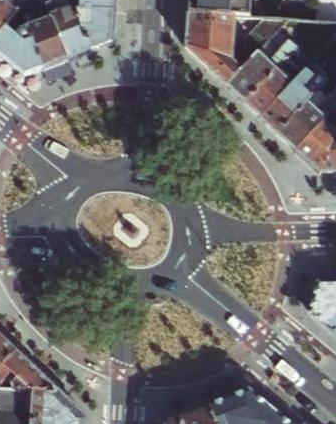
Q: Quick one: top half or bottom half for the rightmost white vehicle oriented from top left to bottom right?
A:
bottom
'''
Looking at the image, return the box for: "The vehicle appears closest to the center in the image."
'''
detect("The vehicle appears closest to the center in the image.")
[152,276,176,290]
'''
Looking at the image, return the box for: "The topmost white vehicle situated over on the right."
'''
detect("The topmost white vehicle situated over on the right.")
[228,315,250,335]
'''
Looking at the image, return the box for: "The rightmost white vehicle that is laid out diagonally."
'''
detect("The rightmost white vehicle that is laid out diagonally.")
[276,360,304,386]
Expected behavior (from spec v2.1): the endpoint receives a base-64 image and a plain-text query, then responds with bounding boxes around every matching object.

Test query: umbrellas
[0,62,12,77]
[27,78,41,92]
[14,74,24,85]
